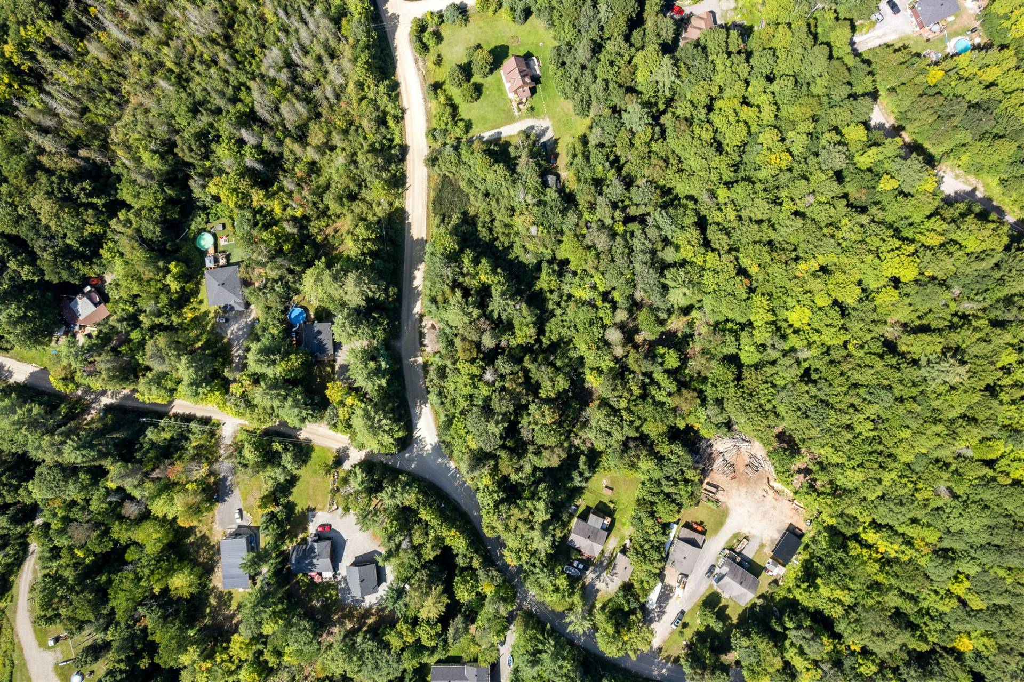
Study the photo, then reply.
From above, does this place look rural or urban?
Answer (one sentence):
From above, the setting appears rural.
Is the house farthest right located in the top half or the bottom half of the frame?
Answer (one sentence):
The house farthest right is in the top half of the image.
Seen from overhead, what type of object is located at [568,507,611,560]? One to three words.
house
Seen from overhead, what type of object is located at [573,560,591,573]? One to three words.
vehicle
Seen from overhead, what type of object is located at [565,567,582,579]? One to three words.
boat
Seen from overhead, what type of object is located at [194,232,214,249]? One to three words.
swimming pool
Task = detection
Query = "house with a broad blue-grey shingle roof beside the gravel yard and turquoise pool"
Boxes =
[904,0,960,40]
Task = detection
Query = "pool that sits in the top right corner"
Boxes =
[953,36,973,53]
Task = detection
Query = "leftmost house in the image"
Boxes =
[58,291,115,336]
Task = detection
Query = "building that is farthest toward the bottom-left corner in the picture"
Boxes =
[220,528,257,589]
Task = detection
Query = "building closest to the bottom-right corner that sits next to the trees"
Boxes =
[766,529,802,566]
